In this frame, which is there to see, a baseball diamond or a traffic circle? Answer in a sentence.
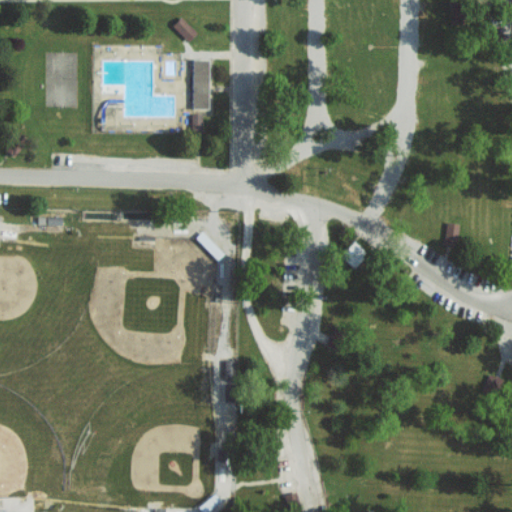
There is a baseball diamond in the scene.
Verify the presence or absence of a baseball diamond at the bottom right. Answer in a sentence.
No, looking at the bottom right, there is no baseball diamond.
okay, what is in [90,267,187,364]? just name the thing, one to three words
baseball field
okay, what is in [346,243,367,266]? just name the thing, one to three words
building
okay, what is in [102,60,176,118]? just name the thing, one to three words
swimming pool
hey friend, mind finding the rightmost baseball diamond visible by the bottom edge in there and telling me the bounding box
[132,424,204,498]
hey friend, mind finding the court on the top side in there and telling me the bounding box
[46,52,78,108]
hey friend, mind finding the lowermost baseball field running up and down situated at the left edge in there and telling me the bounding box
[0,424,28,496]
